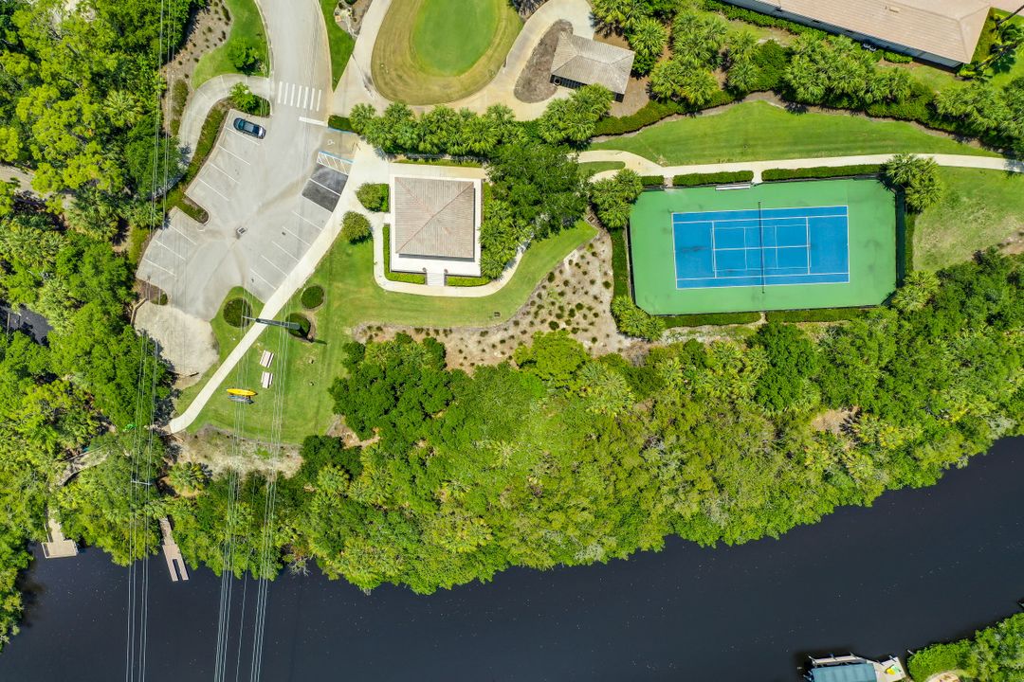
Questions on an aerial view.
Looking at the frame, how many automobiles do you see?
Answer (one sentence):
The picture shows just 1 automobile.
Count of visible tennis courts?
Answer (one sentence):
In total, 1 tennis court can be seen.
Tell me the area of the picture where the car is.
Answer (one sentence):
The car appears toward the top left of the photo.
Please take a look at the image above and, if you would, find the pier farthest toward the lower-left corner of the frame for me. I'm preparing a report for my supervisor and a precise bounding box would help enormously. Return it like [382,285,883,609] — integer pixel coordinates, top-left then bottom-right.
[40,505,82,559]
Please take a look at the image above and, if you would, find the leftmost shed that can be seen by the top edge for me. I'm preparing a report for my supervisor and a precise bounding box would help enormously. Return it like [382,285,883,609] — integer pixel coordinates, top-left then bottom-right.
[550,29,634,99]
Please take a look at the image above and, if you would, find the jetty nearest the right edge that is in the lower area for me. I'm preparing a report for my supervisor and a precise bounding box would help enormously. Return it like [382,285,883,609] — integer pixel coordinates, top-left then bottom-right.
[159,516,189,582]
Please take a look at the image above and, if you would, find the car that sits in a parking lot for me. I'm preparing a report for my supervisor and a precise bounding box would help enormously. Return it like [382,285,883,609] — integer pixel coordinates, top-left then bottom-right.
[231,115,267,138]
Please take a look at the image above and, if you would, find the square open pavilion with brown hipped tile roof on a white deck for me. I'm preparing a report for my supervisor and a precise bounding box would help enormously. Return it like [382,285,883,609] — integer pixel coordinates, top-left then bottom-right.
[384,175,482,287]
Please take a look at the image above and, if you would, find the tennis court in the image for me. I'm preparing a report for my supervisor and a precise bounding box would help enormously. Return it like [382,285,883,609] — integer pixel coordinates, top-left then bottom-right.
[632,178,897,315]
